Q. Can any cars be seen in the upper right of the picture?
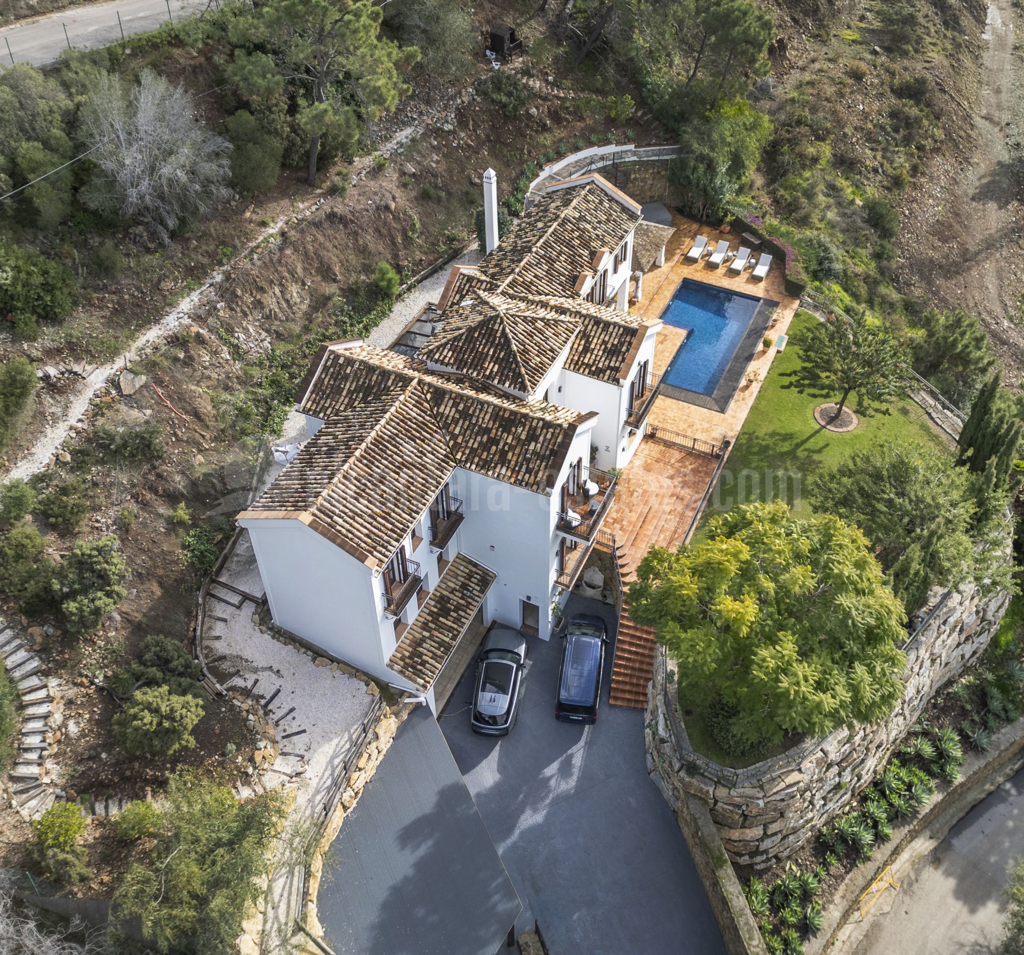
No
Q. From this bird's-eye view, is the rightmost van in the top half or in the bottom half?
bottom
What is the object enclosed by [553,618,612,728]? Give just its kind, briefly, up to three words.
van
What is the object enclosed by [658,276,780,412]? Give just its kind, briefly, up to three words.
swimming pool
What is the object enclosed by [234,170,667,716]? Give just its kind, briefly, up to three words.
house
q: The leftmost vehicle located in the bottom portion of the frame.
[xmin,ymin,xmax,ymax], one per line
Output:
[469,631,529,738]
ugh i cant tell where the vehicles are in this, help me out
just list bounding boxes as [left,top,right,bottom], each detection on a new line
[469,631,529,738]
[553,618,612,728]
